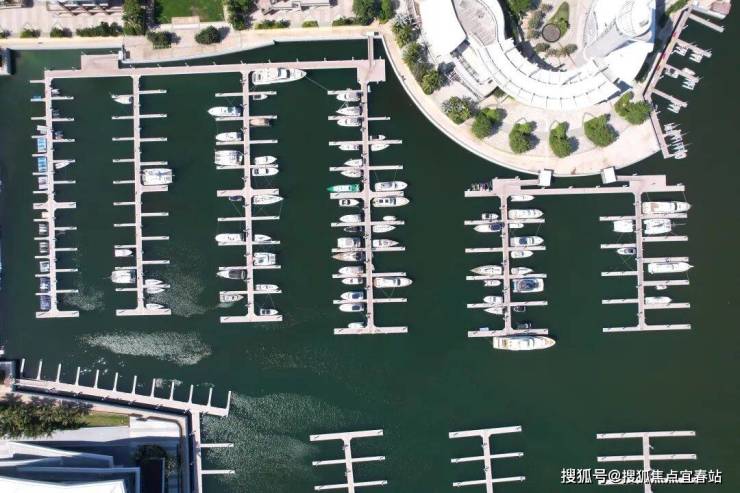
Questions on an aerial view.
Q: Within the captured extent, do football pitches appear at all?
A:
No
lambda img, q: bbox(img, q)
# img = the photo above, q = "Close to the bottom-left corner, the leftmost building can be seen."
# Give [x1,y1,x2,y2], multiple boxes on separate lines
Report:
[0,435,142,493]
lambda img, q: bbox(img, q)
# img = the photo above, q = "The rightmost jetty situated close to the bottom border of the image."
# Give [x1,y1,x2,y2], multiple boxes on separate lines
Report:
[596,430,697,493]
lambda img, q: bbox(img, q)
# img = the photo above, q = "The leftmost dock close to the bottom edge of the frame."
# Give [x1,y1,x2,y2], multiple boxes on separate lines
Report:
[16,359,236,493]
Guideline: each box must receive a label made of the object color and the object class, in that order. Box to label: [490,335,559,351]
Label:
white boat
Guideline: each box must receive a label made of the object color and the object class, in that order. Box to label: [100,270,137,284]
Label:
white boat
